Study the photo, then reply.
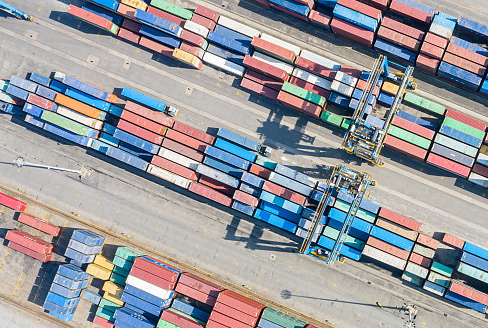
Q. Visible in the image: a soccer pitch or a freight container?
freight container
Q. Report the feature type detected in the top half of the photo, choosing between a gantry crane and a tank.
gantry crane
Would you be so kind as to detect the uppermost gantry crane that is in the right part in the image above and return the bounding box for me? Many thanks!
[340,51,424,169]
